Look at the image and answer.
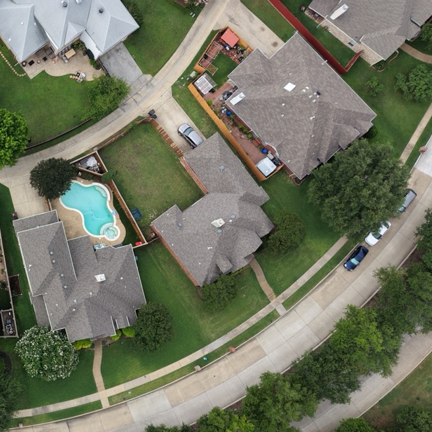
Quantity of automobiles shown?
4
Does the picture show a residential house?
Yes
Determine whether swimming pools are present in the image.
Yes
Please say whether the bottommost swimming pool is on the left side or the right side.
left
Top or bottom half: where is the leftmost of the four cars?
top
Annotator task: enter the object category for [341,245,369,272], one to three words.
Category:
car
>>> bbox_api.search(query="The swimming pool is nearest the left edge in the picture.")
[60,180,119,242]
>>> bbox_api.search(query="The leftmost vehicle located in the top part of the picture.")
[177,121,202,150]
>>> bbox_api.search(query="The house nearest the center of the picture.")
[148,132,273,286]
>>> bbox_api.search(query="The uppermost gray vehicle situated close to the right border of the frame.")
[391,187,419,218]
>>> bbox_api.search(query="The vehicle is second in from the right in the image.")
[364,218,393,246]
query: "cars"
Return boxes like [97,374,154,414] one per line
[391,187,419,218]
[341,245,369,272]
[364,218,393,246]
[177,121,202,150]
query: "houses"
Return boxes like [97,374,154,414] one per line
[11,209,146,345]
[222,32,379,180]
[317,0,432,67]
[148,132,273,286]
[0,0,139,67]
